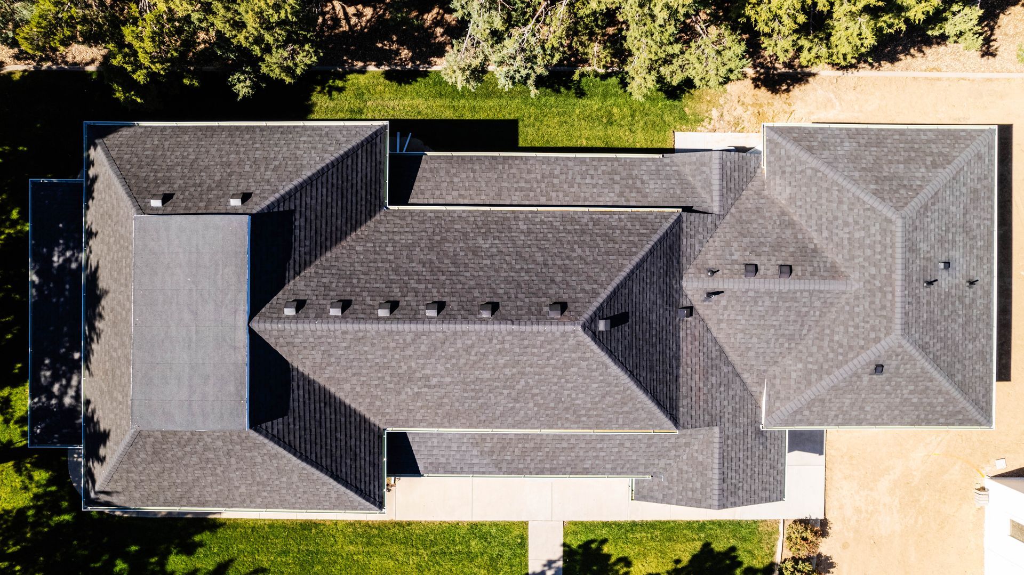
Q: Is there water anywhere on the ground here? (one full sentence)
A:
No, the picture contains no water.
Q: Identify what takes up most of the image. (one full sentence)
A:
For the most part, this view shows buildings.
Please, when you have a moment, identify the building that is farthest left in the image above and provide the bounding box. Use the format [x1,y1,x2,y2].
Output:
[28,121,996,513]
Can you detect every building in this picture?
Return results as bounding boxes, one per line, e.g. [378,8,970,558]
[28,121,996,513]
[969,476,1024,575]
